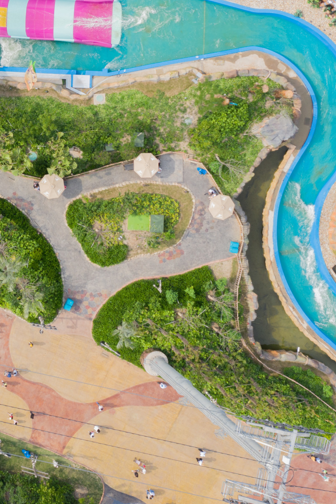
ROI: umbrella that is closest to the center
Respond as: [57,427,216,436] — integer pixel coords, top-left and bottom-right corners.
[207,194,233,220]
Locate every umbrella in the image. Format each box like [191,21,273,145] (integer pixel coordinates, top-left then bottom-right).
[207,194,233,220]
[38,172,64,198]
[132,152,159,178]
